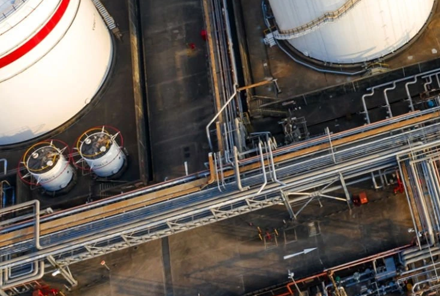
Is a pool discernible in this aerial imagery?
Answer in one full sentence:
No, the scene contains no pool.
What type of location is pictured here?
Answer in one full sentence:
The picture captures an industrial area.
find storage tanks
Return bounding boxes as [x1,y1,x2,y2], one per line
[0,0,125,153]
[269,0,439,67]
[20,139,79,197]
[74,126,131,183]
